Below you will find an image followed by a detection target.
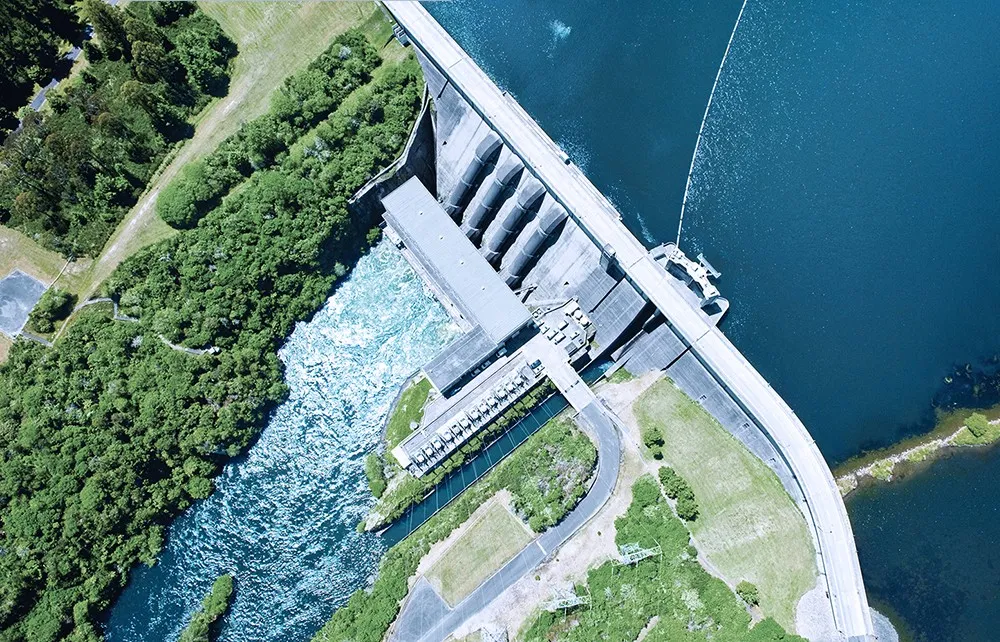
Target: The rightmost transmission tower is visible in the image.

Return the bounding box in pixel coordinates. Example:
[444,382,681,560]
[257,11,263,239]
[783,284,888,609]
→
[610,533,662,565]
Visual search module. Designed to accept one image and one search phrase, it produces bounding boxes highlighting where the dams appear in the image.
[379,0,877,642]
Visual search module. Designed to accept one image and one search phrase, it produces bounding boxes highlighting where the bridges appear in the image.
[548,358,599,413]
